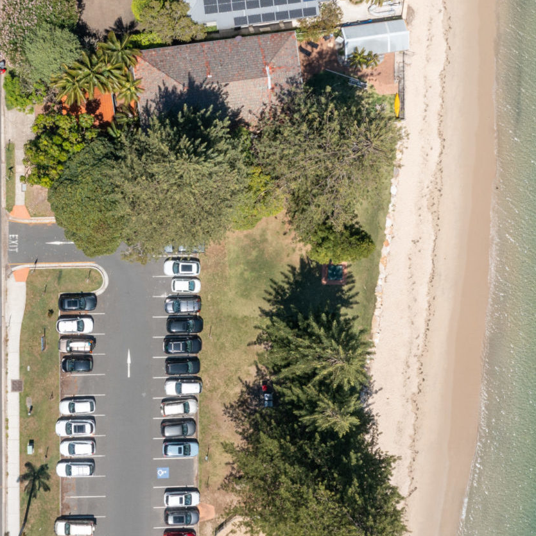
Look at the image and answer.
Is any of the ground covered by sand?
Yes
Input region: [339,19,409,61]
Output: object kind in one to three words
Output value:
shed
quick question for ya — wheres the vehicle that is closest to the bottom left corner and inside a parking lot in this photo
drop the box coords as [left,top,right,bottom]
[56,517,96,535]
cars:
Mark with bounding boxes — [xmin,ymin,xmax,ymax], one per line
[57,459,95,479]
[164,258,202,278]
[162,440,199,457]
[163,507,200,525]
[163,337,201,356]
[161,419,197,437]
[60,294,98,312]
[164,297,201,314]
[60,397,96,415]
[167,317,204,335]
[164,357,200,376]
[58,440,95,457]
[57,418,95,437]
[56,517,96,535]
[60,336,99,355]
[170,276,201,294]
[161,398,199,417]
[57,316,95,335]
[61,356,95,374]
[163,488,200,506]
[164,378,202,397]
